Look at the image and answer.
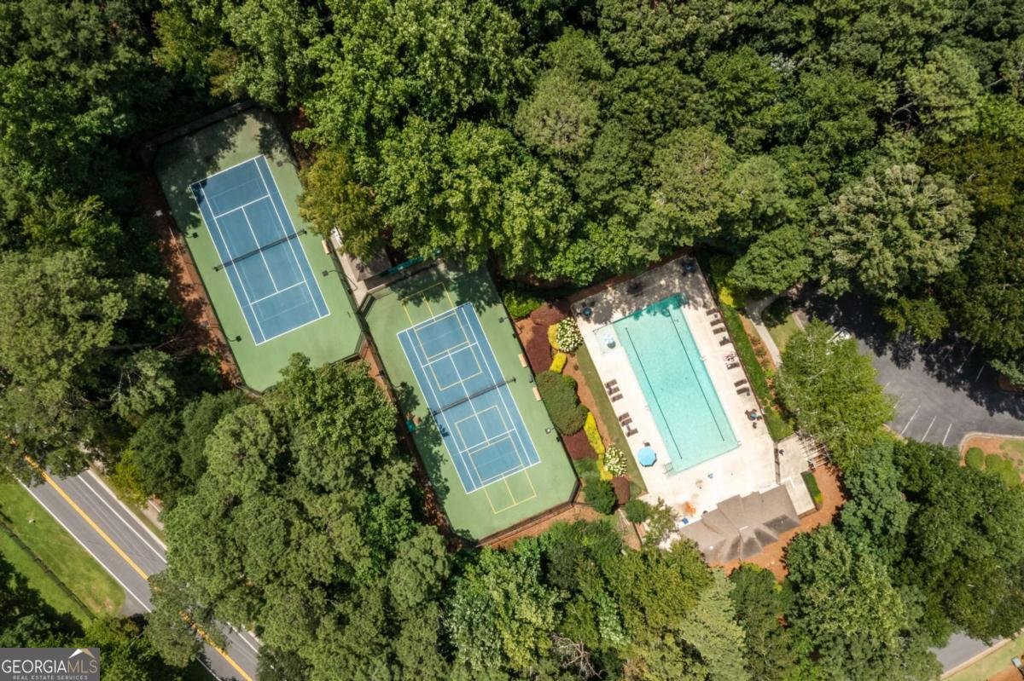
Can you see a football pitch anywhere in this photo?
No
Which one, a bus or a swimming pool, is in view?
swimming pool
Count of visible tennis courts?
2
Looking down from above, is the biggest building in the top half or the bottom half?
bottom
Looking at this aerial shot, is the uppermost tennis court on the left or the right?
left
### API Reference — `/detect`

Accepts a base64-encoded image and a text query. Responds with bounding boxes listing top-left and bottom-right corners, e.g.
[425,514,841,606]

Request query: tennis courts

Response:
[153,108,358,390]
[364,258,578,542]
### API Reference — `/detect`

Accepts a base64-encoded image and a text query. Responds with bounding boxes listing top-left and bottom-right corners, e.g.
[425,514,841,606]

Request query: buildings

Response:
[679,483,800,567]
[344,238,393,283]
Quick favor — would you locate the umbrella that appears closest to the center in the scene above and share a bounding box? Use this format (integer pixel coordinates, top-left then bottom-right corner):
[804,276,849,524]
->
[637,446,656,465]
